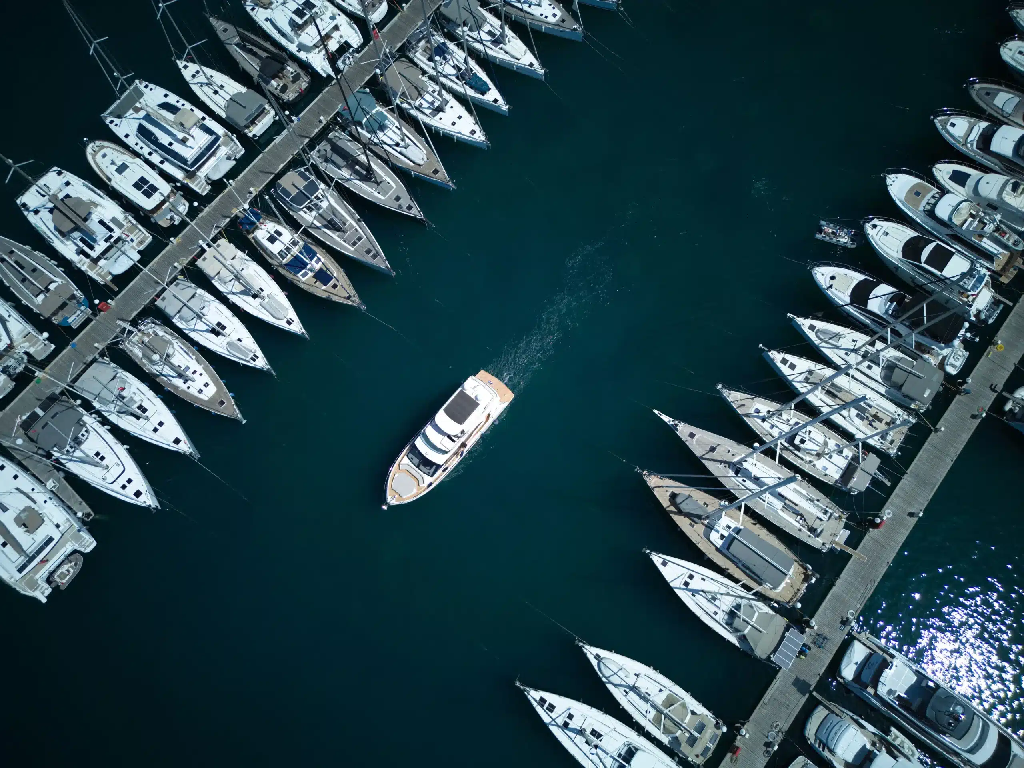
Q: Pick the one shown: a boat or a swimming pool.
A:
boat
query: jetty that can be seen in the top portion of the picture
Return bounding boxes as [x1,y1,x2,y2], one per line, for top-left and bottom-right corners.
[0,0,446,444]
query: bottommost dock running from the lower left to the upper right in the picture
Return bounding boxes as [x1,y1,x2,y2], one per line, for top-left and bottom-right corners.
[717,293,1024,768]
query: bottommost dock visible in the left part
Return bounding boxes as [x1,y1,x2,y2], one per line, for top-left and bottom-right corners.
[0,402,96,520]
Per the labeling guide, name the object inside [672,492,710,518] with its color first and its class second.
gray boat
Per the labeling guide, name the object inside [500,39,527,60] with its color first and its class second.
white boat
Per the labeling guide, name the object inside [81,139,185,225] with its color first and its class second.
white boat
